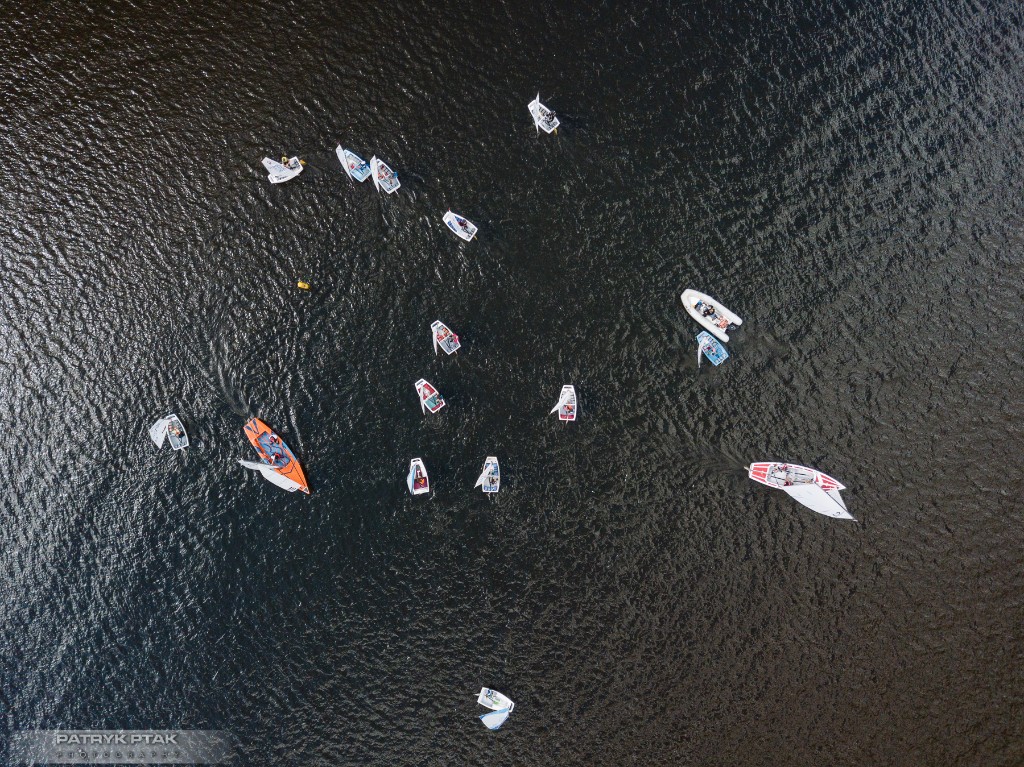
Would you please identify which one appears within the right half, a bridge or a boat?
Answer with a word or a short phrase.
boat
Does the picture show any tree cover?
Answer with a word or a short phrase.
No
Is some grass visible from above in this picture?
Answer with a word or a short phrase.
No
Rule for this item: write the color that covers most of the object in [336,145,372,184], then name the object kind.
white boat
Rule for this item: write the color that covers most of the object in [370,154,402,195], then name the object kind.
white boat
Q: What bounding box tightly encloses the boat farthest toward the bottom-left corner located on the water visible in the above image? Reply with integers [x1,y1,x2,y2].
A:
[148,413,191,451]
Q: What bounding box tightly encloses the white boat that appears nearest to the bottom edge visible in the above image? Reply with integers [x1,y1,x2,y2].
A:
[476,686,515,731]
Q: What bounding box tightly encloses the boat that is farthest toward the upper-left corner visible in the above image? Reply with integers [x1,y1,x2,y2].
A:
[258,155,305,184]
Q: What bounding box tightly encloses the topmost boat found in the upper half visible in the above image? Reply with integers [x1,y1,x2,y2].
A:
[528,94,561,134]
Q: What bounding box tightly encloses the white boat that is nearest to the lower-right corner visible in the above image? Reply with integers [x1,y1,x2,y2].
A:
[742,462,858,519]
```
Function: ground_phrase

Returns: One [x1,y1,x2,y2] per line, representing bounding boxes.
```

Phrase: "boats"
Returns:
[682,288,743,342]
[415,378,446,413]
[406,457,429,496]
[695,331,728,369]
[370,154,402,195]
[550,385,577,424]
[528,94,561,134]
[336,145,372,184]
[443,207,479,242]
[475,456,500,492]
[430,319,461,355]
[240,416,311,494]
[258,155,305,184]
[476,686,515,731]
[148,413,191,451]
[742,462,858,519]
